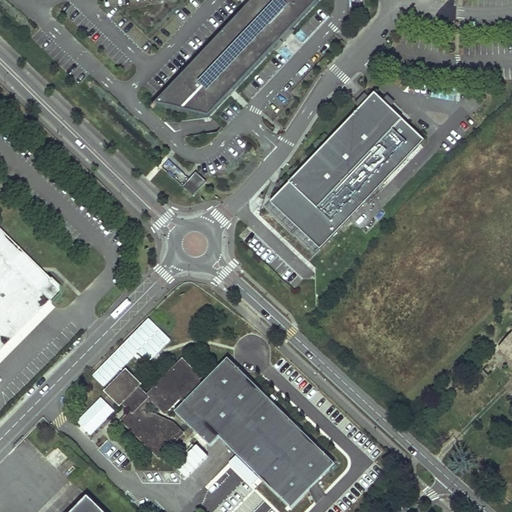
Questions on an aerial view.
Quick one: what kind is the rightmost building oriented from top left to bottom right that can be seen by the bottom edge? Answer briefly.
warehouse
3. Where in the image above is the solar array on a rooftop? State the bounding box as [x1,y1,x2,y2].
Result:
[198,0,290,89]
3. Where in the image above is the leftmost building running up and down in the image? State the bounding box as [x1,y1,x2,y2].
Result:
[0,228,60,362]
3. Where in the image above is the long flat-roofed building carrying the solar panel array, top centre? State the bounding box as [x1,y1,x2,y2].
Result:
[150,0,323,118]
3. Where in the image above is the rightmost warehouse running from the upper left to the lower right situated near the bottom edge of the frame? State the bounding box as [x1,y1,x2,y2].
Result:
[175,358,334,510]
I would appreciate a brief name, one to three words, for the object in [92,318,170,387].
shed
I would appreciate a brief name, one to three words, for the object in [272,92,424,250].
building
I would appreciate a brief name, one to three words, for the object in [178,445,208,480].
shed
